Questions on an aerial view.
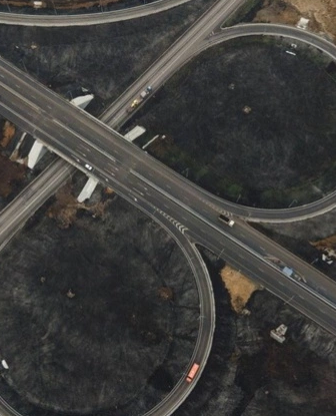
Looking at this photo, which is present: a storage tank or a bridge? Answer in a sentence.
I can see a bridge in this picture.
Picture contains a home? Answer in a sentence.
No, there isn't any home down there.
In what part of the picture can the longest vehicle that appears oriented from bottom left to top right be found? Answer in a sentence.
The longest vehicle that appears oriented from bottom left to top right is in the top part of the image.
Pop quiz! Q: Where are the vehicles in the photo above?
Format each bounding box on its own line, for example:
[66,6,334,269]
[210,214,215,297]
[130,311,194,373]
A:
[186,363,200,383]
[274,260,305,283]
[219,213,235,226]
[83,163,92,170]
[126,84,153,112]
[132,97,141,106]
